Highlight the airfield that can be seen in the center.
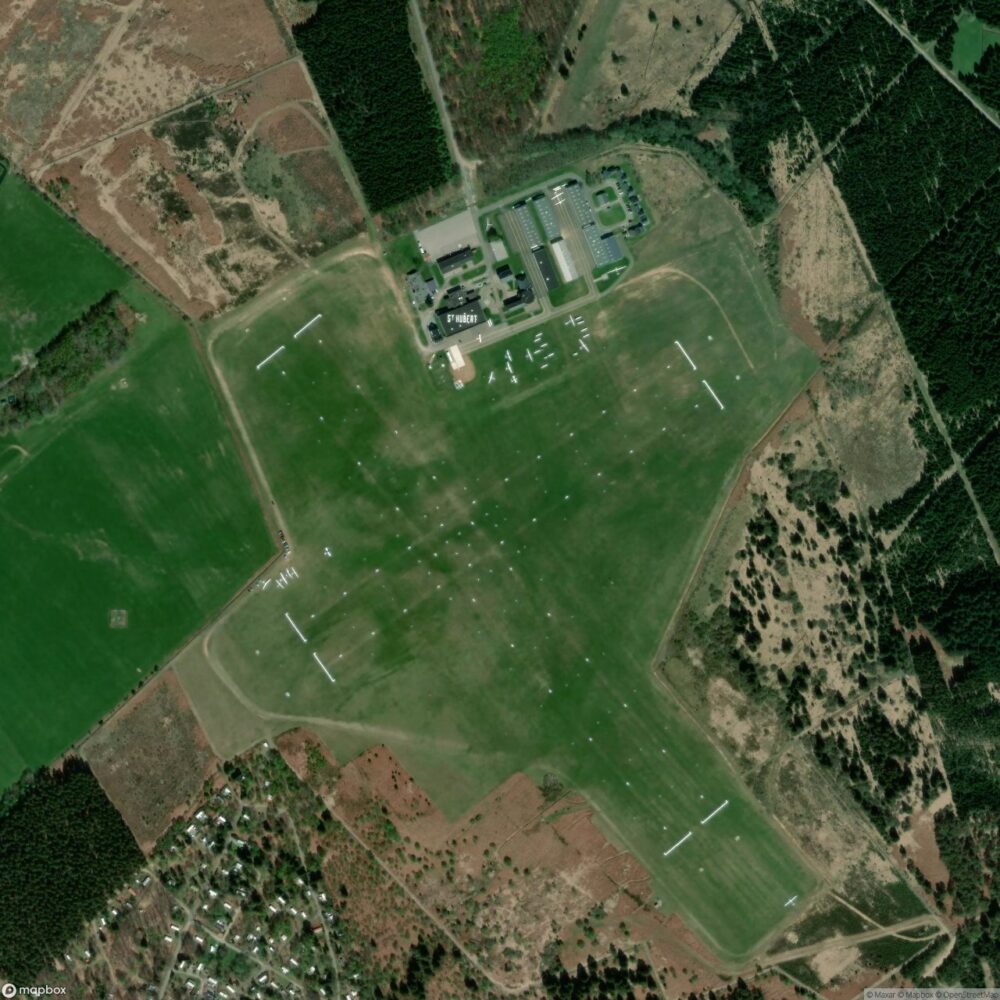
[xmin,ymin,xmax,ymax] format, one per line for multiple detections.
[174,145,824,970]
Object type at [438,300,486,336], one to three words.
building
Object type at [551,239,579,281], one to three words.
hangar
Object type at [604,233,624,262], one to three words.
hangar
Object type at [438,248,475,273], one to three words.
building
